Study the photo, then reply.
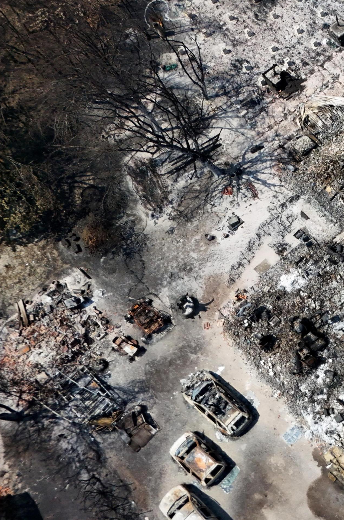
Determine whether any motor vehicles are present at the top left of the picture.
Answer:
No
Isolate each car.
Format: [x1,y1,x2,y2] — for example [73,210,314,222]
[174,434,228,486]
[163,488,218,520]
[185,371,252,438]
